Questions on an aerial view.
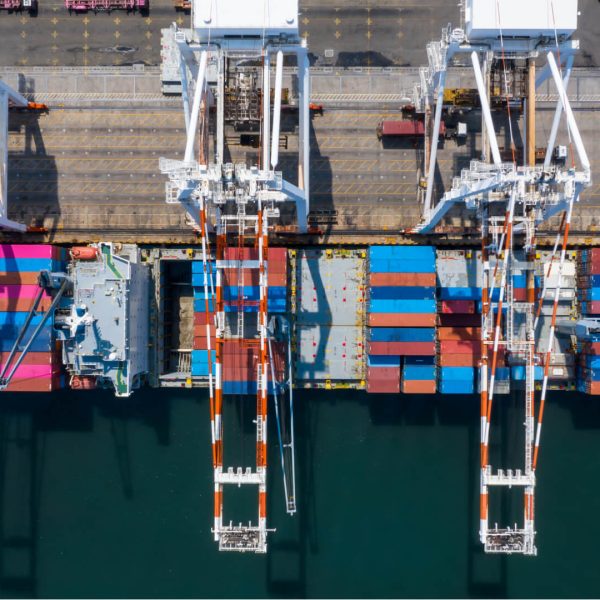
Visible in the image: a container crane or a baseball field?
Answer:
container crane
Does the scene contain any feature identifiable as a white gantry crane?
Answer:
Yes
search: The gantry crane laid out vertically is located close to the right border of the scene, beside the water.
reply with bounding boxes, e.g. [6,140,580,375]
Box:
[391,0,600,551]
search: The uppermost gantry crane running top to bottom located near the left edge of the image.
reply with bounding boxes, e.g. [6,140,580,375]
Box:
[0,80,49,234]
